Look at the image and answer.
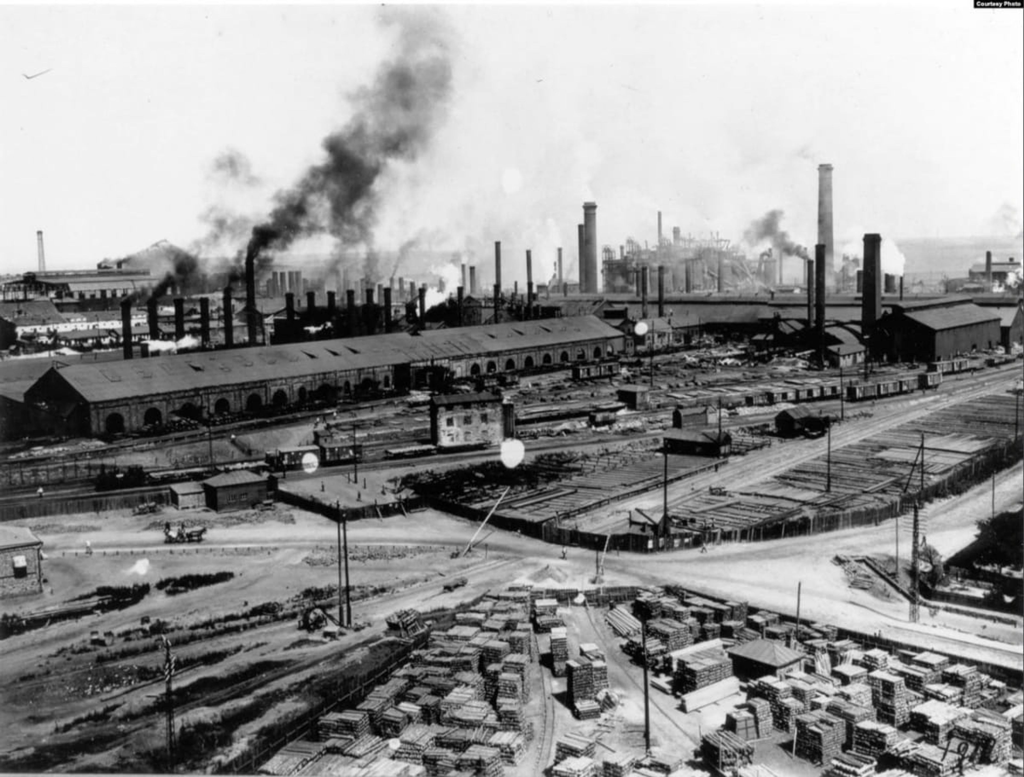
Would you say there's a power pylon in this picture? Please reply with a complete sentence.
Yes, there's a power pylon down there.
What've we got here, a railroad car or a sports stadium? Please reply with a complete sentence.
Of the two, only a railroad car appears.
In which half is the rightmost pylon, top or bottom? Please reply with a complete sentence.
You can find the rightmost pylon in the bottom half.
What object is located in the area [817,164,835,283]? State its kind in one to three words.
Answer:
chimney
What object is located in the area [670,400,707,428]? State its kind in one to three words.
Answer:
house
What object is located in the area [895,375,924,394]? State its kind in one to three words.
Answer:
rail car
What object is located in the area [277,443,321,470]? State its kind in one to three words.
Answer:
rail car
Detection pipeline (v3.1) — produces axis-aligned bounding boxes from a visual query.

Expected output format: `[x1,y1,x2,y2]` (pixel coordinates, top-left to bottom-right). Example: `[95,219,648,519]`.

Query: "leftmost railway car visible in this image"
[93,457,152,489]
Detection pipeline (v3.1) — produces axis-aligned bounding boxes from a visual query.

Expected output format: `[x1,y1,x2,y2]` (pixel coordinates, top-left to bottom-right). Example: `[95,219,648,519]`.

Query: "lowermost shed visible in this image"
[726,641,809,690]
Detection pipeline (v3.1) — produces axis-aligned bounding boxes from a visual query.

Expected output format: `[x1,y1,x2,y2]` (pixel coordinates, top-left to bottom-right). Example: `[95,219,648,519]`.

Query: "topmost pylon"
[900,501,929,623]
